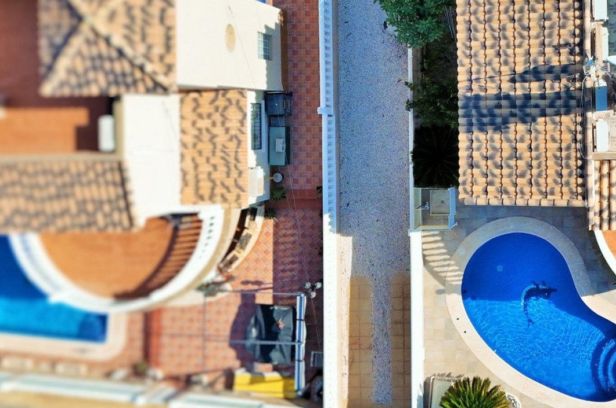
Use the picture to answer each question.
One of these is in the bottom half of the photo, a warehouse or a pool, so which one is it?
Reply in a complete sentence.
It is a pool that can be seen in the bottom half of the photo.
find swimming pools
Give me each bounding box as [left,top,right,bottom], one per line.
[445,217,616,408]
[0,232,123,359]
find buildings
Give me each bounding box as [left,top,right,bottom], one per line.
[456,0,616,275]
[0,0,282,324]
